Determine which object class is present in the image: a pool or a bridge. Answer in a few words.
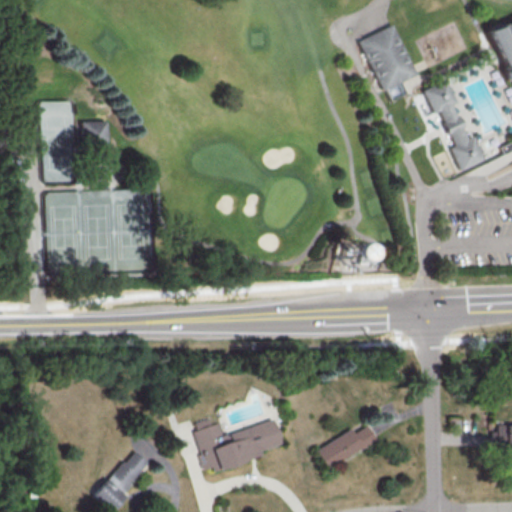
pool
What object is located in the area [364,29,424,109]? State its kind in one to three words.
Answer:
building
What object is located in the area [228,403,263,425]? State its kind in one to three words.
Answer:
swimming pool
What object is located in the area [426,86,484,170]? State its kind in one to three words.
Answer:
building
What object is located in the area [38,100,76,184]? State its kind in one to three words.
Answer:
tennis court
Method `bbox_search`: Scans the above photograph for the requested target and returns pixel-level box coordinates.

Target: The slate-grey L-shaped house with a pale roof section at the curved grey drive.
[96,451,148,505]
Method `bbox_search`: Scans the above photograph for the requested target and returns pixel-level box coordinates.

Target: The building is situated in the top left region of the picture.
[80,122,110,148]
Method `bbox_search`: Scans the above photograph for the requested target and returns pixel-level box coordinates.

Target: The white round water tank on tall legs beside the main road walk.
[362,240,388,265]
